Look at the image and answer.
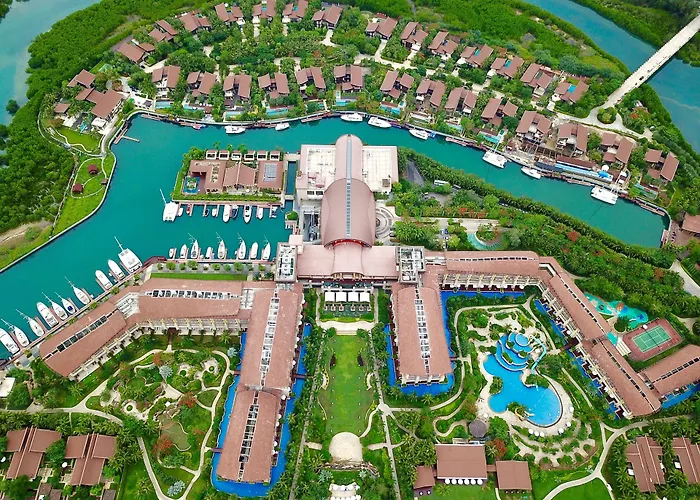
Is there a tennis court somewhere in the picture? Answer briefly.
Yes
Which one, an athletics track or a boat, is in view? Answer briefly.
boat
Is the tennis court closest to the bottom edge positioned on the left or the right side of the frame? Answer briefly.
right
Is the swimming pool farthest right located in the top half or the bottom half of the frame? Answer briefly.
bottom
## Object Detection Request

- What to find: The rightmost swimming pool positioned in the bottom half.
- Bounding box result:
[660,380,700,410]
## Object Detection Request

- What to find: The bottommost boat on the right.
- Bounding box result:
[592,187,618,205]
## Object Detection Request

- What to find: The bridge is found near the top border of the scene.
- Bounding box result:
[623,10,700,86]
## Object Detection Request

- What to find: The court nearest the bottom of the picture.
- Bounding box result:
[623,316,686,361]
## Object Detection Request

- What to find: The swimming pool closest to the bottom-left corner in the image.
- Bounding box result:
[210,323,310,498]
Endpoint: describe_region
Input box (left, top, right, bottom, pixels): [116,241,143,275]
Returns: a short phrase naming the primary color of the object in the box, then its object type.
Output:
white boat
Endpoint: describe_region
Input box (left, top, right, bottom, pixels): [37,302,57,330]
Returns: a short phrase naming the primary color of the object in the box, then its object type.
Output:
white boat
